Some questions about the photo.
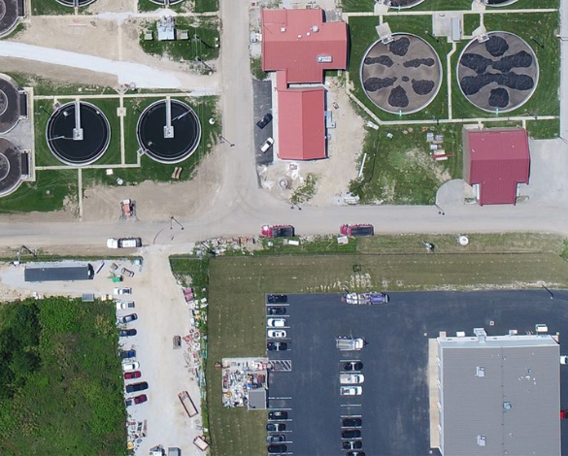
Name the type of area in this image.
industrial area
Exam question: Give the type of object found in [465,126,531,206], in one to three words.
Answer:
building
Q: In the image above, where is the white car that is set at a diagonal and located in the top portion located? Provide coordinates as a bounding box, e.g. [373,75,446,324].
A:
[259,136,275,153]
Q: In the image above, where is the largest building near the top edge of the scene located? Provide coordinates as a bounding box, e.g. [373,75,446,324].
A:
[261,8,349,84]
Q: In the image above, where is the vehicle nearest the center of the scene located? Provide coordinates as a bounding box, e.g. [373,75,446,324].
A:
[263,225,295,238]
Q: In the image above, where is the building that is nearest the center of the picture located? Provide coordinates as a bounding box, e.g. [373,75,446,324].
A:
[277,87,327,163]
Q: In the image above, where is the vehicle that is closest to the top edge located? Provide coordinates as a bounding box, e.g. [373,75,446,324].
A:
[255,113,273,130]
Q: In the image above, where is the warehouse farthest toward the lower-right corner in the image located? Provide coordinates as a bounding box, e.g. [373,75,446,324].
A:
[438,335,564,456]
